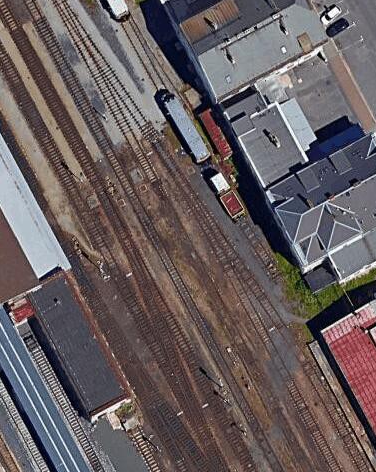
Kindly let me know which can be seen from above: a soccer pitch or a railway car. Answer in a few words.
railway car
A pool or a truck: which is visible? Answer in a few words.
truck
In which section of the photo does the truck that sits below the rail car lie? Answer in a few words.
center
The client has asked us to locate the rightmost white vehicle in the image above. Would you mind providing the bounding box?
[319,7,342,24]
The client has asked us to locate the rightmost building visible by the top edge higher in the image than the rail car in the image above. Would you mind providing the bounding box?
[181,0,329,105]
